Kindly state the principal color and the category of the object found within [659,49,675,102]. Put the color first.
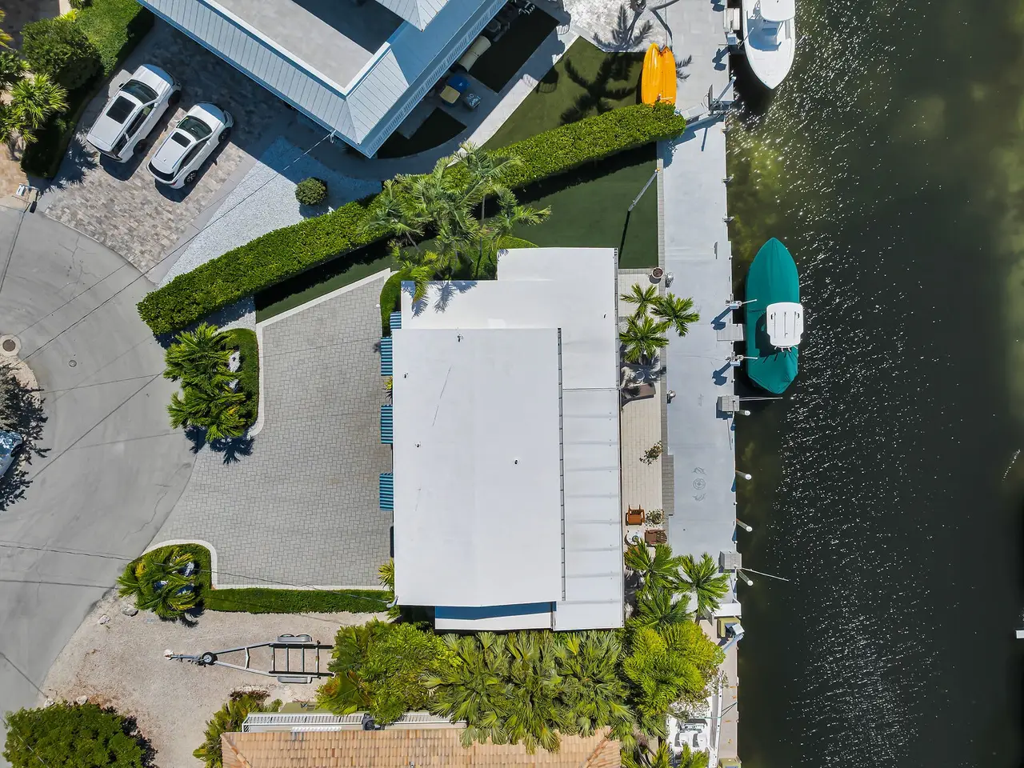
orange boat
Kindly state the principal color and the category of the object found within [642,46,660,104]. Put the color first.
orange boat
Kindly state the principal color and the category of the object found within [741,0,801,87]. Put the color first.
white boat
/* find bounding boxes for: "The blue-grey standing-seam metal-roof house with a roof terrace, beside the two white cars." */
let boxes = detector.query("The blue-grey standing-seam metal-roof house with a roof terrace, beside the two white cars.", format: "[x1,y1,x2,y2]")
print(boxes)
[129,0,509,159]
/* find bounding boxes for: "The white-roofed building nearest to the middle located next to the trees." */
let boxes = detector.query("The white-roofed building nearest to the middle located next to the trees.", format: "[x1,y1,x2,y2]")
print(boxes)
[380,248,627,631]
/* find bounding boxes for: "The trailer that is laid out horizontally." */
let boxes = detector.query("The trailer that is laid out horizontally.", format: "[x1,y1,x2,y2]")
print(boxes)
[165,634,335,689]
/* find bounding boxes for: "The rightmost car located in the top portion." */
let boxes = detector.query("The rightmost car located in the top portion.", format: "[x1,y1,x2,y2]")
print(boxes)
[149,101,233,194]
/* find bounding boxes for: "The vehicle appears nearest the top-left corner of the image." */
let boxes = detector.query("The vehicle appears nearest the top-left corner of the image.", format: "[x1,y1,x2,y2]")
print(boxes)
[92,61,183,167]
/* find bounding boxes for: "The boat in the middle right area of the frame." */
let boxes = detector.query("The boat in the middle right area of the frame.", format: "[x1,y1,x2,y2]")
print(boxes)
[744,238,803,393]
